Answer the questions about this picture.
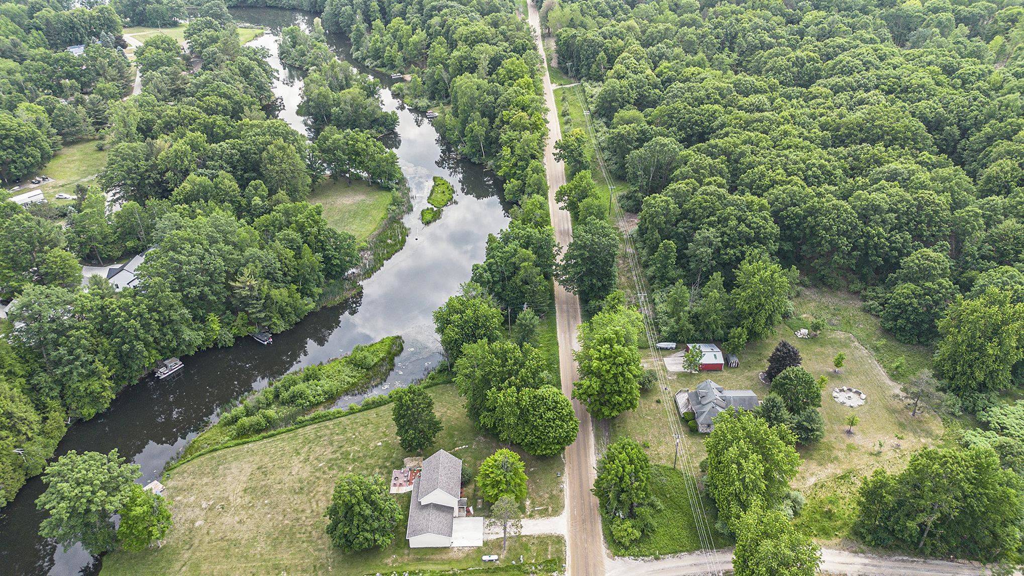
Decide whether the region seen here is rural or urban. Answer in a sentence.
From above, the setting appears rural.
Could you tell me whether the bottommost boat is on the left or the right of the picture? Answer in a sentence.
The bottommost boat sits on the left side.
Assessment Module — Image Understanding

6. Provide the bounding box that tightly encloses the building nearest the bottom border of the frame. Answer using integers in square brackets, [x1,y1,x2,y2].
[406,447,468,547]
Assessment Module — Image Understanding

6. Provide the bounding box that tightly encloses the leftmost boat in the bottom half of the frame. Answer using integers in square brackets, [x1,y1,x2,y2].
[153,358,185,380]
